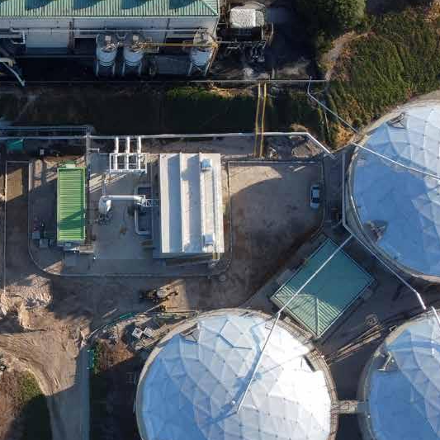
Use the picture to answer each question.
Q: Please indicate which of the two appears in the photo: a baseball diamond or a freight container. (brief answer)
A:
freight container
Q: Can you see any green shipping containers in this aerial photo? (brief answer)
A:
Yes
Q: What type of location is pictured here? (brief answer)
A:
industrial area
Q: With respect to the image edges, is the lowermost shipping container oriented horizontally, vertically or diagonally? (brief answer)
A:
vertically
